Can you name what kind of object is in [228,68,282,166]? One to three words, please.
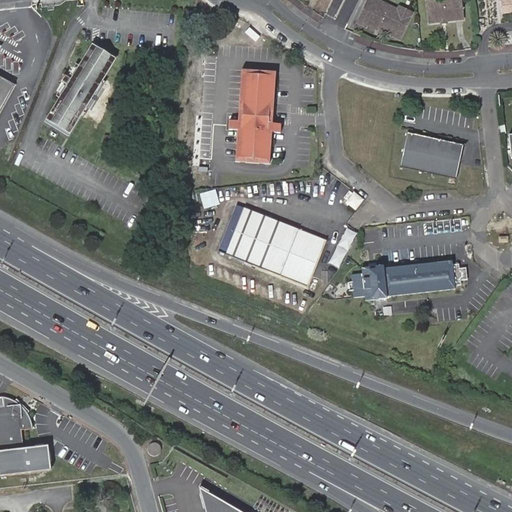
building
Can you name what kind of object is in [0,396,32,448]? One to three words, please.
building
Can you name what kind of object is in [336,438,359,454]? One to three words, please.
vehicle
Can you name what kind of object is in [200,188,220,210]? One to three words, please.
shed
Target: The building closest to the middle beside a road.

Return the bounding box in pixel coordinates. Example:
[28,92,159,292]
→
[219,204,327,289]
